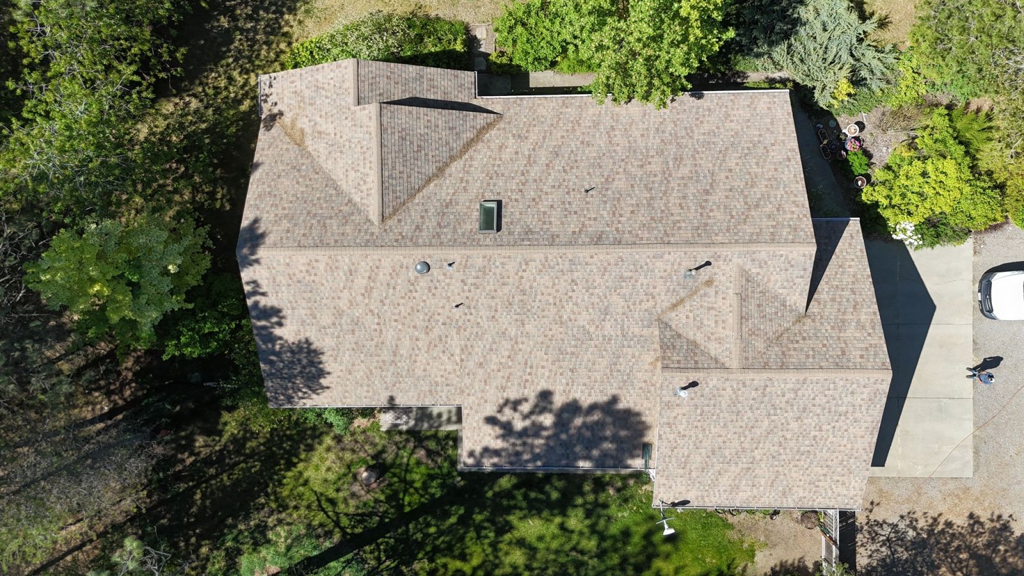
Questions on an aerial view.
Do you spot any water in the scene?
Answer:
No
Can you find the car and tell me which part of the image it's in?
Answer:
right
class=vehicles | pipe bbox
[978,270,1024,321]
